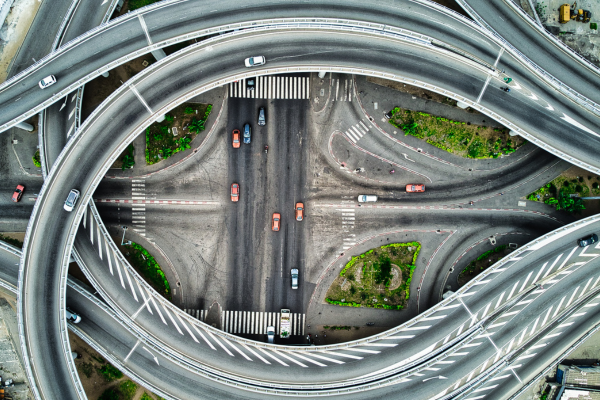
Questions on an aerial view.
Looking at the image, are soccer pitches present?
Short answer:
No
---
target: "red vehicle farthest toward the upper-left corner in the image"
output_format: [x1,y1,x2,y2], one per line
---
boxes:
[9,183,24,203]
